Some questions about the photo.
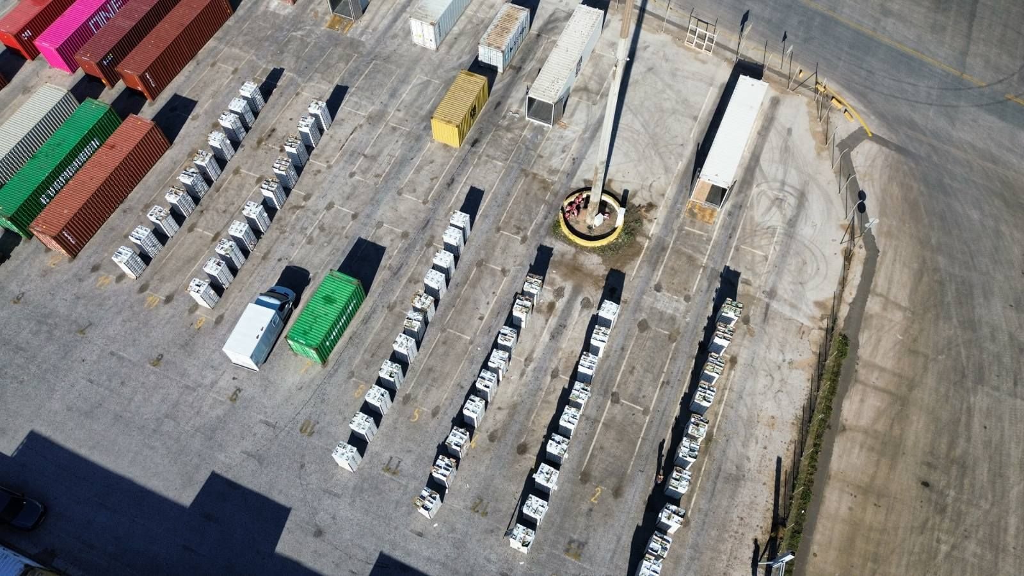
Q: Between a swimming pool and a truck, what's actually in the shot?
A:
truck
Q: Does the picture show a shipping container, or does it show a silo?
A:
shipping container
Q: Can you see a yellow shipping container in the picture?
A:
Yes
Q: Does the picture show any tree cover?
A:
No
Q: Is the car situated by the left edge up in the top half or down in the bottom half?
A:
bottom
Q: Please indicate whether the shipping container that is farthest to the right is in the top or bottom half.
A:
top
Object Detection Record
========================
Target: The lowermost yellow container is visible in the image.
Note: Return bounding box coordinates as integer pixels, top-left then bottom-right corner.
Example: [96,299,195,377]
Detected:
[431,69,488,147]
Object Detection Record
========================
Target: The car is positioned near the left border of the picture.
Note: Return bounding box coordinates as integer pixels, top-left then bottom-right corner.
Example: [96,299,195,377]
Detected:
[0,487,51,537]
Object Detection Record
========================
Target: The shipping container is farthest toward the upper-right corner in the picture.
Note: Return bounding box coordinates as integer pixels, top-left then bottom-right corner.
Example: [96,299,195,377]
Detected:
[691,74,768,209]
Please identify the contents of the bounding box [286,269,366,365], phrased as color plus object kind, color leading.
green shipping container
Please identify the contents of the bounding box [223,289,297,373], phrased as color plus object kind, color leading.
white truck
